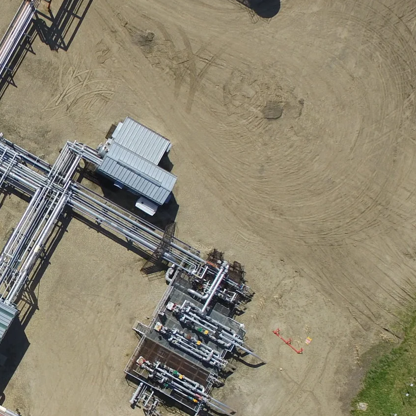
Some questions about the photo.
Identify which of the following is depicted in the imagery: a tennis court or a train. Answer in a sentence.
It is a train that can be seen here.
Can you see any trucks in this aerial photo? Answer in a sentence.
No, no truck can be seen from above.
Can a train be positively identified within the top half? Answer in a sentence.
No, there's no train to be seen within the top half.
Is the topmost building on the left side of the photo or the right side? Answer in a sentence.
You can find the topmost building on the left side of the picture.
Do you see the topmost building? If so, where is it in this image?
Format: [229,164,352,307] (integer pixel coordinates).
[100,115,173,164]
